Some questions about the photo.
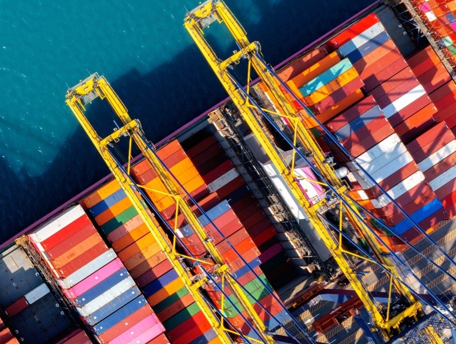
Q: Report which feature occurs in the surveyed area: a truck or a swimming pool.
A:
truck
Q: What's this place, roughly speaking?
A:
port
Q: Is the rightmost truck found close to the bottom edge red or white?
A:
red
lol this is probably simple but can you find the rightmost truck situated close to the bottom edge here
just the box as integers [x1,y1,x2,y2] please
[313,300,360,337]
